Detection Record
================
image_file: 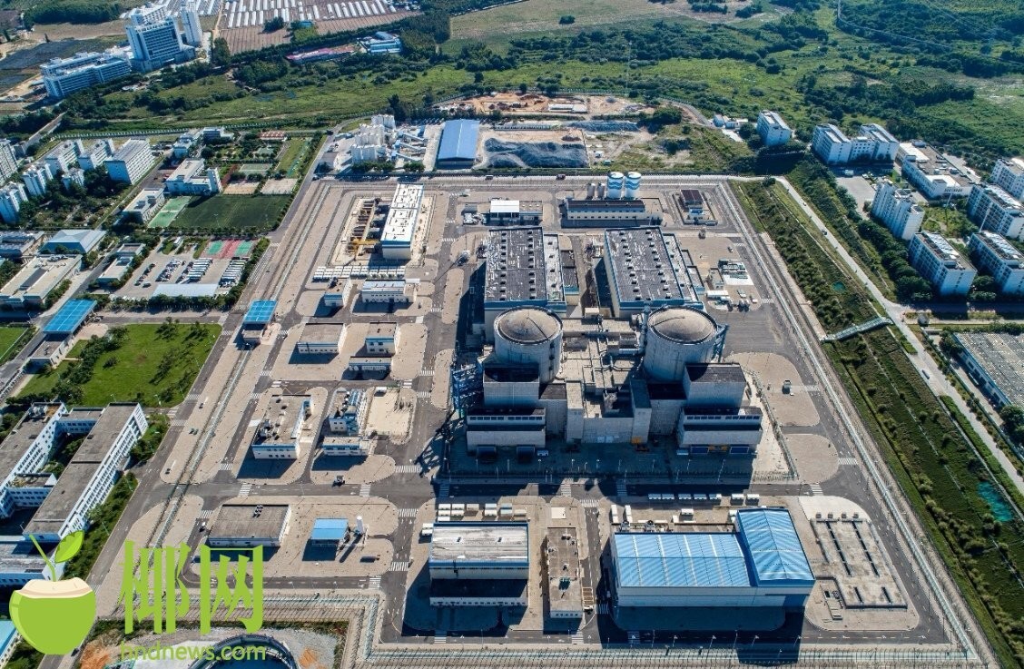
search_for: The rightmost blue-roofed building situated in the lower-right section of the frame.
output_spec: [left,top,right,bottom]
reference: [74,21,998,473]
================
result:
[731,509,815,606]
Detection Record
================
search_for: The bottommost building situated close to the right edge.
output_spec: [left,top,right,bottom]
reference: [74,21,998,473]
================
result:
[950,333,1024,432]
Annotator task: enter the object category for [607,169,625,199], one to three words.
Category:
water tank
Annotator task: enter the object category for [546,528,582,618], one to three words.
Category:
building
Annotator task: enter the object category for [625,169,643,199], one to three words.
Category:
water tank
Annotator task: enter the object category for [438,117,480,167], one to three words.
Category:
shed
